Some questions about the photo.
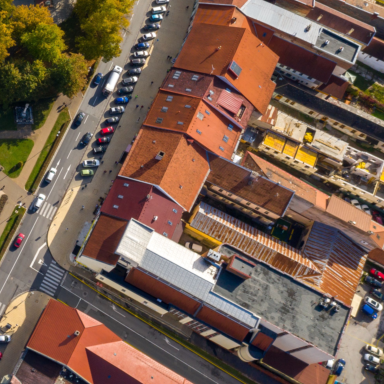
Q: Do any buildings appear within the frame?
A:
Yes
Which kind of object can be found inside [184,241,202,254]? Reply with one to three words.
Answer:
vehicle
